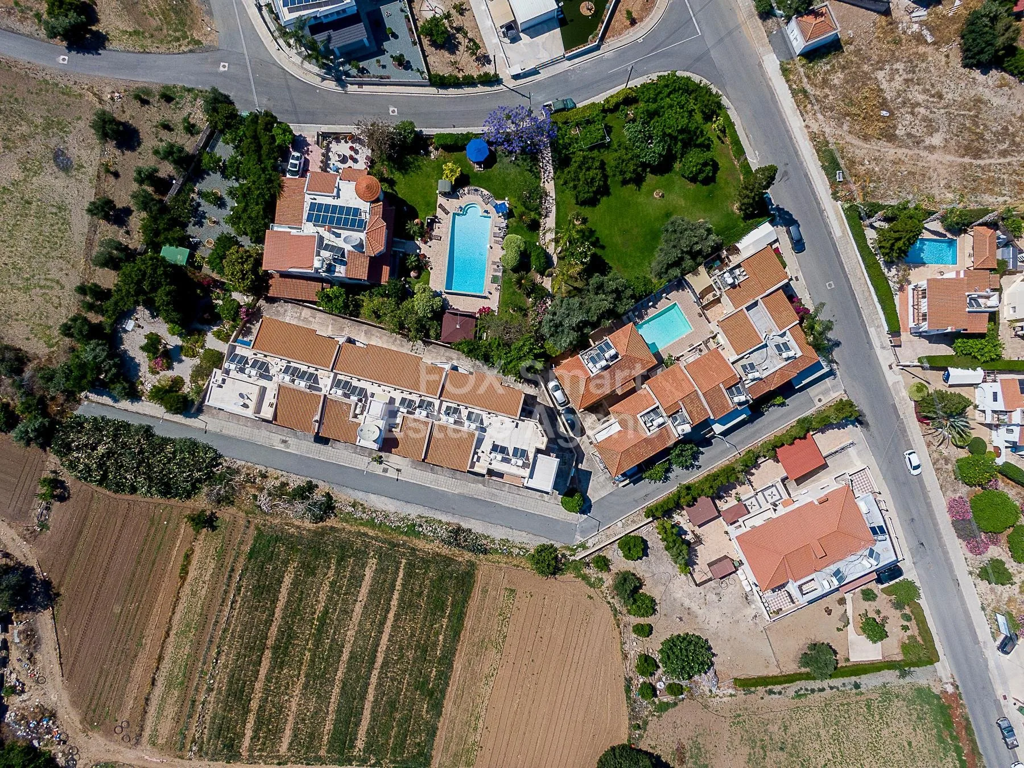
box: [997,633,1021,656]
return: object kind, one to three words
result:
car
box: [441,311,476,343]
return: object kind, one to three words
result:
gazebo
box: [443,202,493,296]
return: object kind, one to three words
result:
swimming pool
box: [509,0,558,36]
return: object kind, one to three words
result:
house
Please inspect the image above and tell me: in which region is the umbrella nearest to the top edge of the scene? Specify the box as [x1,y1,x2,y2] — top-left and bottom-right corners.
[466,140,488,162]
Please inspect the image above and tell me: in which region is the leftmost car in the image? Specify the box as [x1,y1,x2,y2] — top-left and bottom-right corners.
[287,151,302,178]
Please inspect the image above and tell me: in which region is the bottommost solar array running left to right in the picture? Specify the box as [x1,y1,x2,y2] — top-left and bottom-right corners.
[306,202,366,230]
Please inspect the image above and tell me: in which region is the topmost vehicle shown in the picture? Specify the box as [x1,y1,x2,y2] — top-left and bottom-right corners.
[501,21,516,42]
